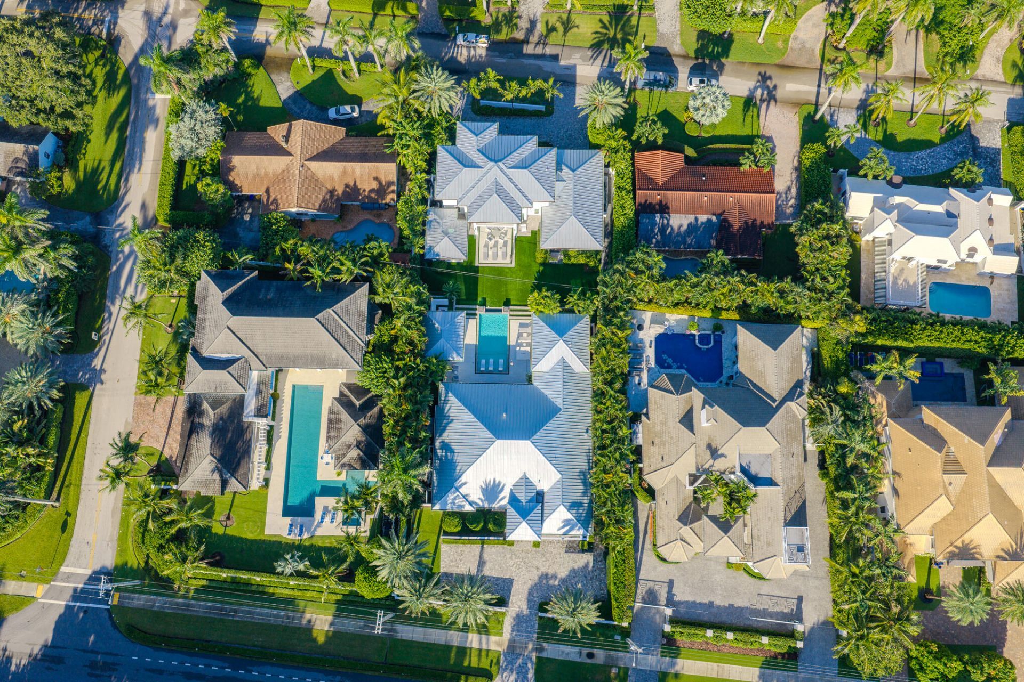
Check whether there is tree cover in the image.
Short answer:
Yes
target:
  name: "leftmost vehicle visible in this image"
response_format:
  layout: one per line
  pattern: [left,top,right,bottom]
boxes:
[328,104,359,120]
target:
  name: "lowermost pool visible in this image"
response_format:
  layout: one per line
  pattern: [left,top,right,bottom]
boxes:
[340,515,363,529]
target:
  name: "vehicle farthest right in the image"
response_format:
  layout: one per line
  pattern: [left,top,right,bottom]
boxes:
[689,76,719,91]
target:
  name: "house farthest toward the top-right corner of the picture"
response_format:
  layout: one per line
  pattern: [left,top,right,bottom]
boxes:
[839,171,1020,308]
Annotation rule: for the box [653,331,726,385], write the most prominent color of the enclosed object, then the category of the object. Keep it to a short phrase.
blue swimming pool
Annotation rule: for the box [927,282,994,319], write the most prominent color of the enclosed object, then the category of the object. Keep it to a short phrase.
blue swimming pool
